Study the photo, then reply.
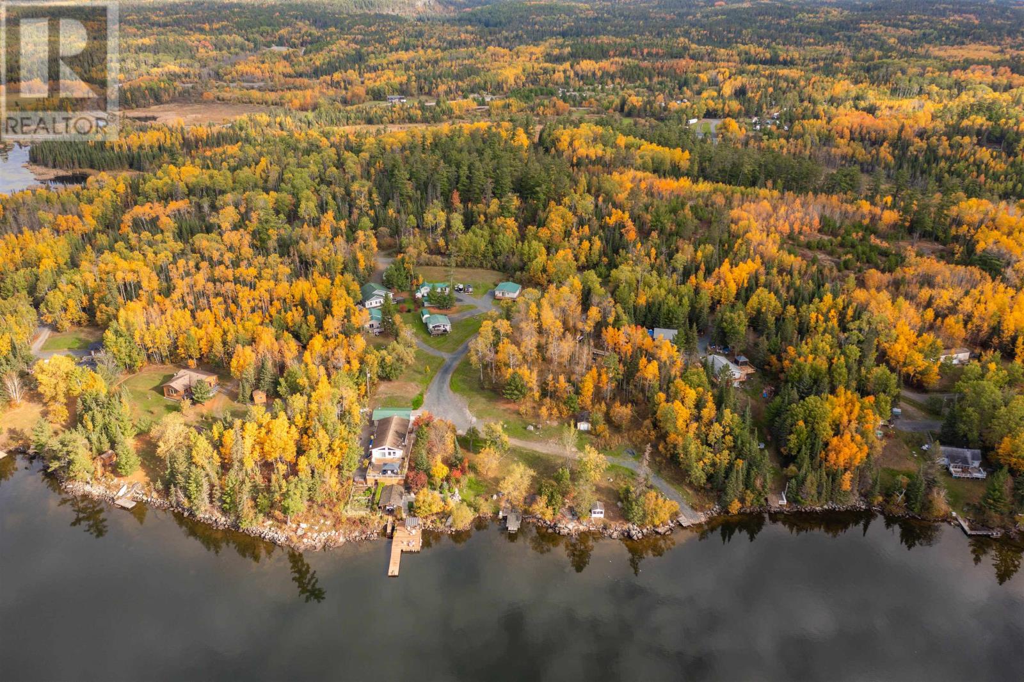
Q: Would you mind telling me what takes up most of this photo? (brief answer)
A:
trees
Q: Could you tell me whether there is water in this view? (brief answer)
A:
Yes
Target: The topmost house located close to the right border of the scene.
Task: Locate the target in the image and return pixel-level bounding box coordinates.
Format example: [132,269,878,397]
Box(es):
[933,345,975,365]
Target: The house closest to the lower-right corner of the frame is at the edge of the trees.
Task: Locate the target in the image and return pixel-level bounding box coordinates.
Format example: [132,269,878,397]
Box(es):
[923,435,988,485]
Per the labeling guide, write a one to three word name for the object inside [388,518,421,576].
pier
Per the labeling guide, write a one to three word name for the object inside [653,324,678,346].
building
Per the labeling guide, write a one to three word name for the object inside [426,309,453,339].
building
